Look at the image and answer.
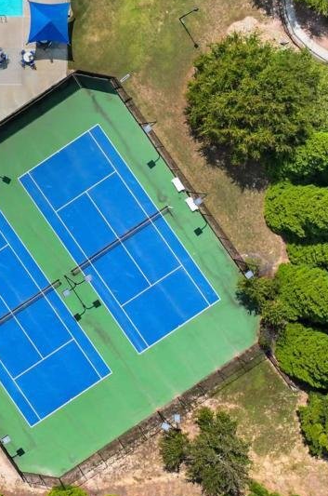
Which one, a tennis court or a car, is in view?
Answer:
tennis court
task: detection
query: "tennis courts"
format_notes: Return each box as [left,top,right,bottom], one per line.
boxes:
[16,124,219,353]
[0,211,111,427]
